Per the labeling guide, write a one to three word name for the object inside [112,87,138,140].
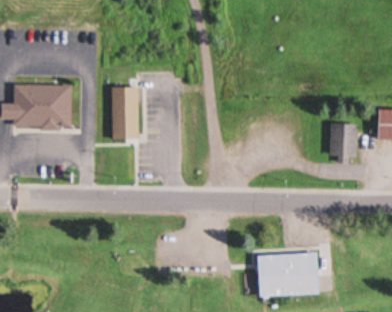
building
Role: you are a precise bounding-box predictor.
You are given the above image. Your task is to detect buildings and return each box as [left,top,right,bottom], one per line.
[0,85,72,129]
[378,110,392,141]
[246,252,320,304]
[112,87,138,140]
[330,123,357,168]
